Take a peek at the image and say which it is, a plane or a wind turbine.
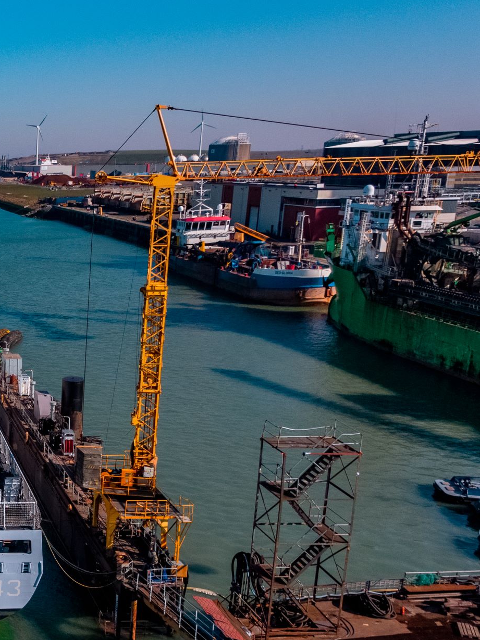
wind turbine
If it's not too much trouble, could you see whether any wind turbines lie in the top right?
No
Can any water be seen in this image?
Yes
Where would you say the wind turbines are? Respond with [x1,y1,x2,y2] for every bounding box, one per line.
[22,108,48,166]
[182,99,224,148]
